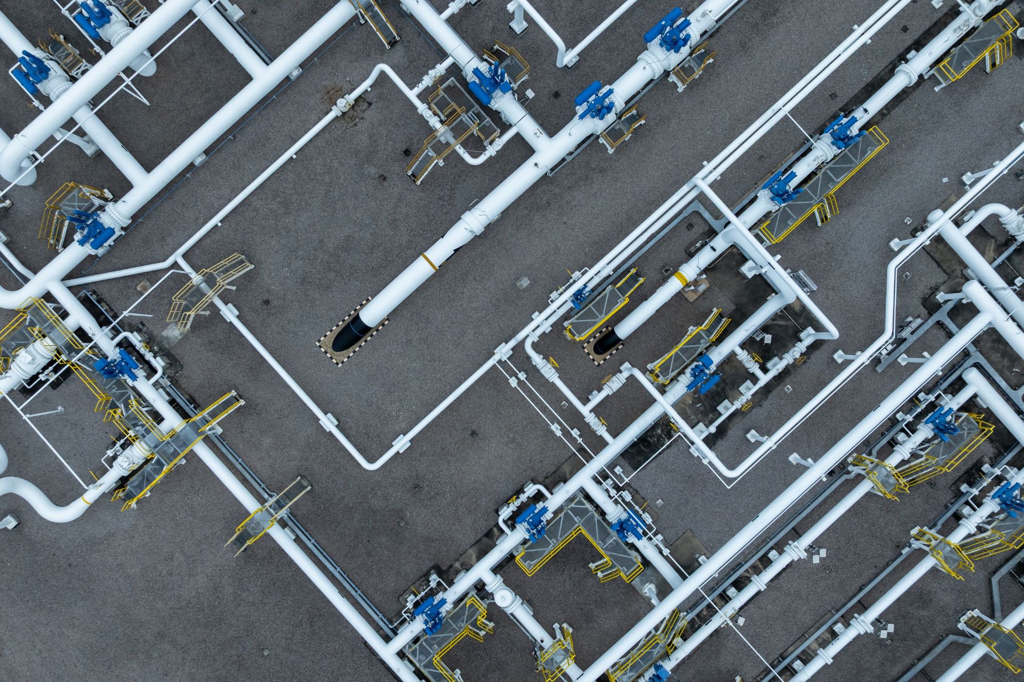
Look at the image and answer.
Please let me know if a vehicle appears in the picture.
No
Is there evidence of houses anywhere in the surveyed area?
No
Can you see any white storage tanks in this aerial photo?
No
